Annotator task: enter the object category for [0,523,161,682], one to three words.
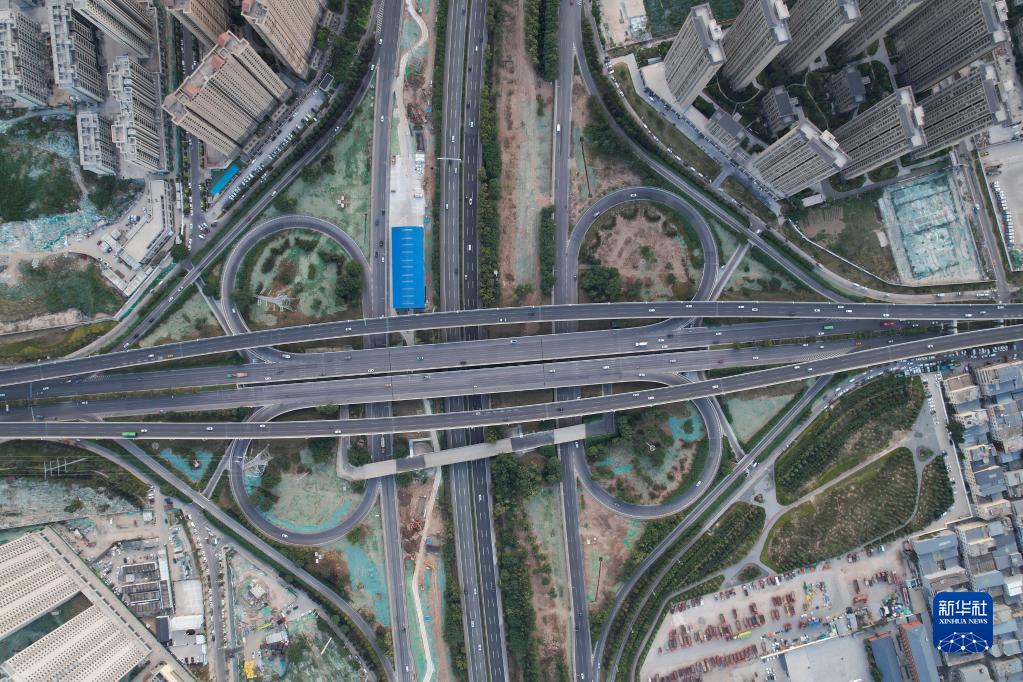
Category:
warehouse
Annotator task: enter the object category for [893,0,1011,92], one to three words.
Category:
building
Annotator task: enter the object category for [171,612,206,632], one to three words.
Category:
shed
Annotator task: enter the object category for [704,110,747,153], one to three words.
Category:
house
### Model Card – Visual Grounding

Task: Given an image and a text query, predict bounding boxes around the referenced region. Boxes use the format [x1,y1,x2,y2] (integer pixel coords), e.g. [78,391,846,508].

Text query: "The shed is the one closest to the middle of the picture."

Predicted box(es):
[392,226,427,309]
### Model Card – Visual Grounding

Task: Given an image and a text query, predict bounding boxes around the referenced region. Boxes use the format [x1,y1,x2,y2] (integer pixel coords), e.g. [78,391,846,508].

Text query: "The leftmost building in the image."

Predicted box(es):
[0,9,50,108]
